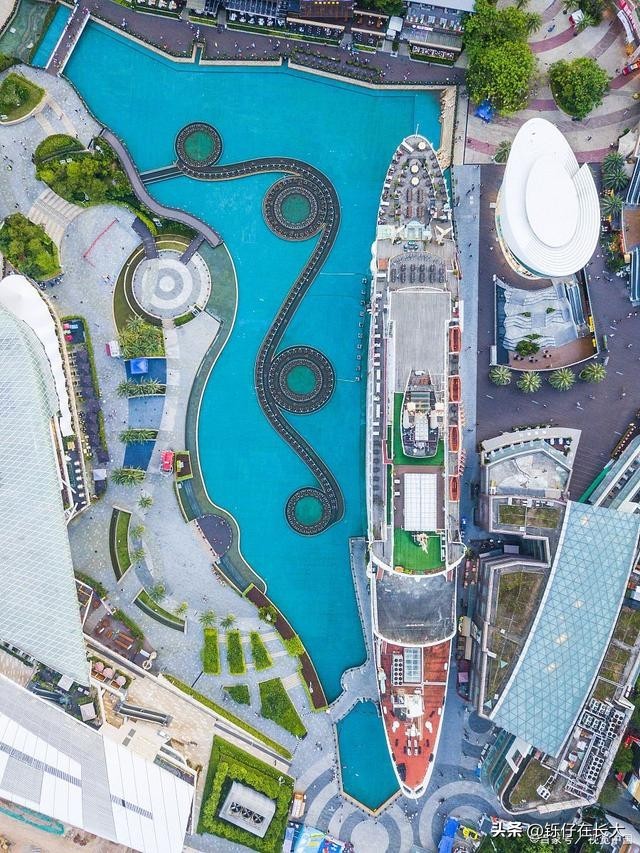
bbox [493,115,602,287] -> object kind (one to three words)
building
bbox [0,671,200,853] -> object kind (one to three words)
building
